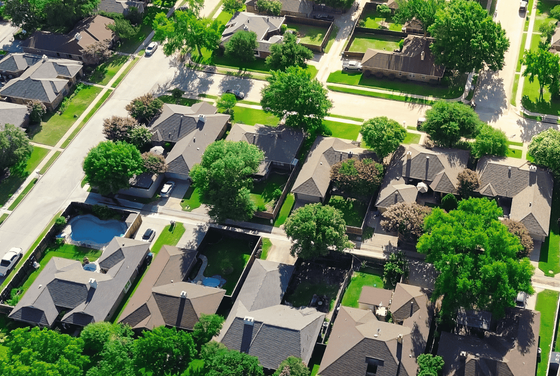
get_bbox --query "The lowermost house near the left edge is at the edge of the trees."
[8,237,152,331]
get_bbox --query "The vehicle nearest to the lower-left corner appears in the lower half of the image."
[0,250,23,275]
